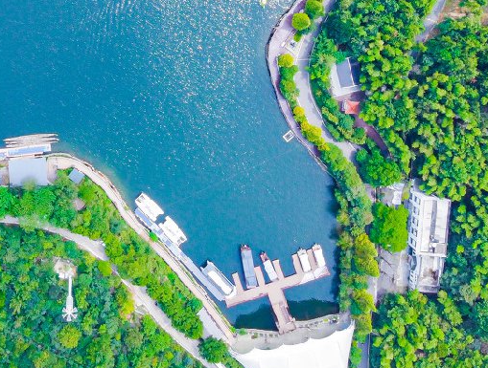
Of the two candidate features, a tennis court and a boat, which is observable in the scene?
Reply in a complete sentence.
There is a boat in the scene.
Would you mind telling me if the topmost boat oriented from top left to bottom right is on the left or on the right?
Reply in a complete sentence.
It is on the left.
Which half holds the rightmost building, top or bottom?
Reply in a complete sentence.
The rightmost building is in the bottom half of the image.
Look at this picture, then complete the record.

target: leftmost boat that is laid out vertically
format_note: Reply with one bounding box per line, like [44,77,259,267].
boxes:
[241,246,259,292]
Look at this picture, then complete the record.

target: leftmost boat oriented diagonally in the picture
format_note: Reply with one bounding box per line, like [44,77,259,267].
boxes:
[134,192,166,222]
